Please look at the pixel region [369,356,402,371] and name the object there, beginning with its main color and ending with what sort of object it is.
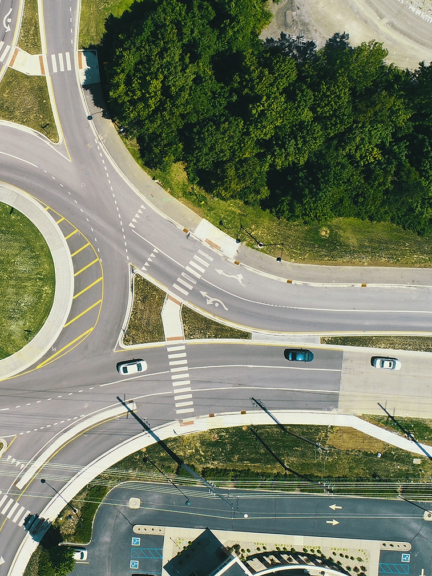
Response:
white car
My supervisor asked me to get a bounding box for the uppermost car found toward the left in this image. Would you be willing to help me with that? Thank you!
[115,359,149,374]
